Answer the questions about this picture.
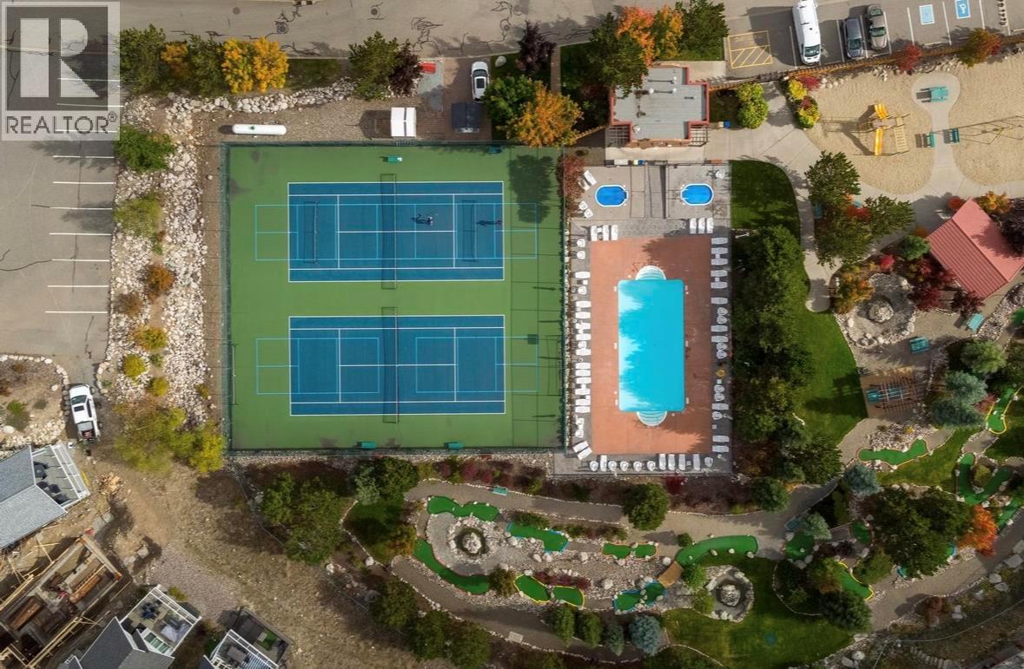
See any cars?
Yes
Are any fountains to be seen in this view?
Yes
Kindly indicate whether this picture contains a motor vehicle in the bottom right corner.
No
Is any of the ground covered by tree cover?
Yes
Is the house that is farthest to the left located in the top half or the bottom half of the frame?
bottom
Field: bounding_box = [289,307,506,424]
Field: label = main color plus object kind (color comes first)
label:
blue tennis court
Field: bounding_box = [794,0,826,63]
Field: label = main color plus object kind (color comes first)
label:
white van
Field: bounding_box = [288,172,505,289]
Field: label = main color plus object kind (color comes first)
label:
blue tennis court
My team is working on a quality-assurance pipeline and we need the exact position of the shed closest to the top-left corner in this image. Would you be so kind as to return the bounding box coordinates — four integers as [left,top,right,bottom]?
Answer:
[391,105,419,140]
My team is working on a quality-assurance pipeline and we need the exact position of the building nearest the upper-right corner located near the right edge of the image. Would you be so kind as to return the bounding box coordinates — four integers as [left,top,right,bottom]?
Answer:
[925,198,1024,299]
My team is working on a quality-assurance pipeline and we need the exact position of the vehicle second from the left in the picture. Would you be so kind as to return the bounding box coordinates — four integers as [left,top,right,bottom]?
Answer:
[468,58,490,102]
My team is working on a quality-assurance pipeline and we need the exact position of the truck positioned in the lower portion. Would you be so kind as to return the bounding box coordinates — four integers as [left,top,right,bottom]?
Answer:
[65,386,96,441]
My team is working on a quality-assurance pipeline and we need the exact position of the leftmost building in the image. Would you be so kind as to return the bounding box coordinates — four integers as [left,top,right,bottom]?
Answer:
[0,443,92,547]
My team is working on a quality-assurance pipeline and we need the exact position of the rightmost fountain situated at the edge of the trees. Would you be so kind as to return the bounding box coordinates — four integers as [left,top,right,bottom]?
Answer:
[861,290,900,330]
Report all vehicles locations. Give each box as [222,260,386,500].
[468,58,490,102]
[794,0,826,63]
[867,3,892,48]
[65,386,96,441]
[843,14,869,58]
